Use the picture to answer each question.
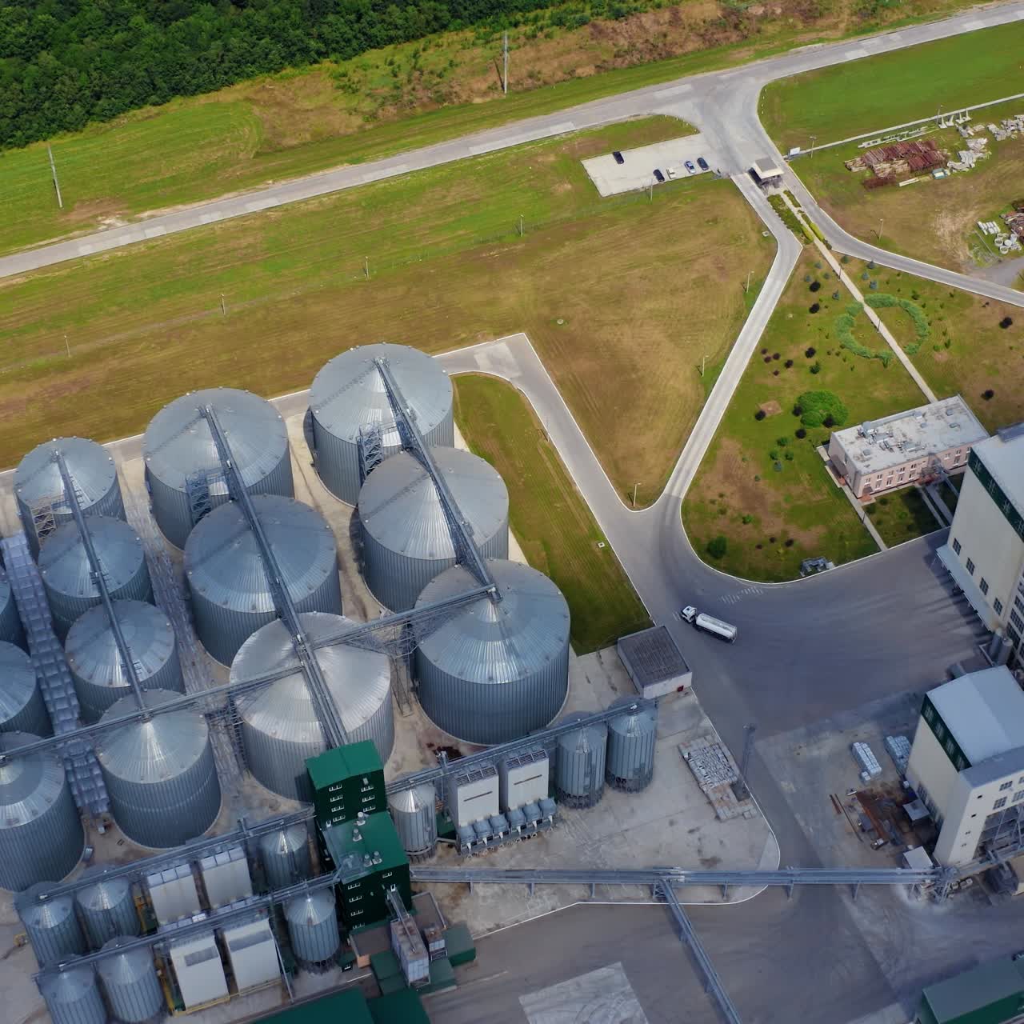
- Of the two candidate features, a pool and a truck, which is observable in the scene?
truck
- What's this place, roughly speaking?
industrial area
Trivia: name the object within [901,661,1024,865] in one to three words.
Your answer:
building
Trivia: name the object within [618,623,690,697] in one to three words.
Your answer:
shed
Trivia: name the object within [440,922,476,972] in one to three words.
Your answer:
building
